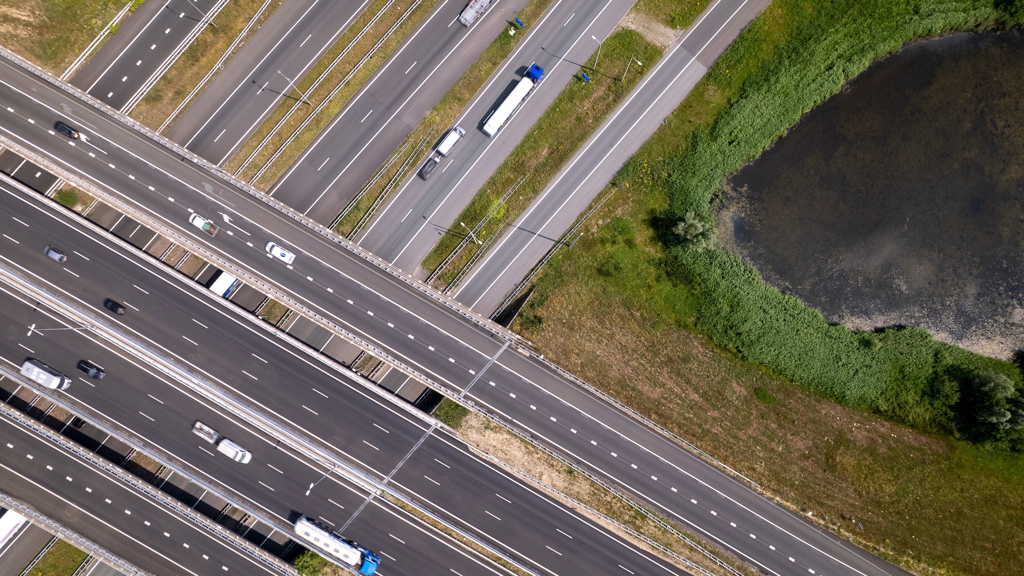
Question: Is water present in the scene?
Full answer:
Yes, some water is visible.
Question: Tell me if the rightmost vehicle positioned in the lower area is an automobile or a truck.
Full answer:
The rightmost vehicle positioned in the lower area can be classified as a truck.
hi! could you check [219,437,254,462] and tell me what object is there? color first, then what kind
white vehicle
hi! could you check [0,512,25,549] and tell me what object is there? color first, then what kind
white truck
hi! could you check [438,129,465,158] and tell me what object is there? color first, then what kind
white vehicle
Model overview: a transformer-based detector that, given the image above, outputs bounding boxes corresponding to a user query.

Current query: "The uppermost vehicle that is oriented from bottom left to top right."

[459,0,497,31]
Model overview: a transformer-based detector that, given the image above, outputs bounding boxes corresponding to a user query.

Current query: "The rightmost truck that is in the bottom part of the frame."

[297,514,379,574]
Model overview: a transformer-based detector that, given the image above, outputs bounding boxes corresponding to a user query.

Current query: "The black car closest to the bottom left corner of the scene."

[73,419,88,431]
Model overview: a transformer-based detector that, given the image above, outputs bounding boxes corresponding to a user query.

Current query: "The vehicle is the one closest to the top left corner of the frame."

[54,121,81,141]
